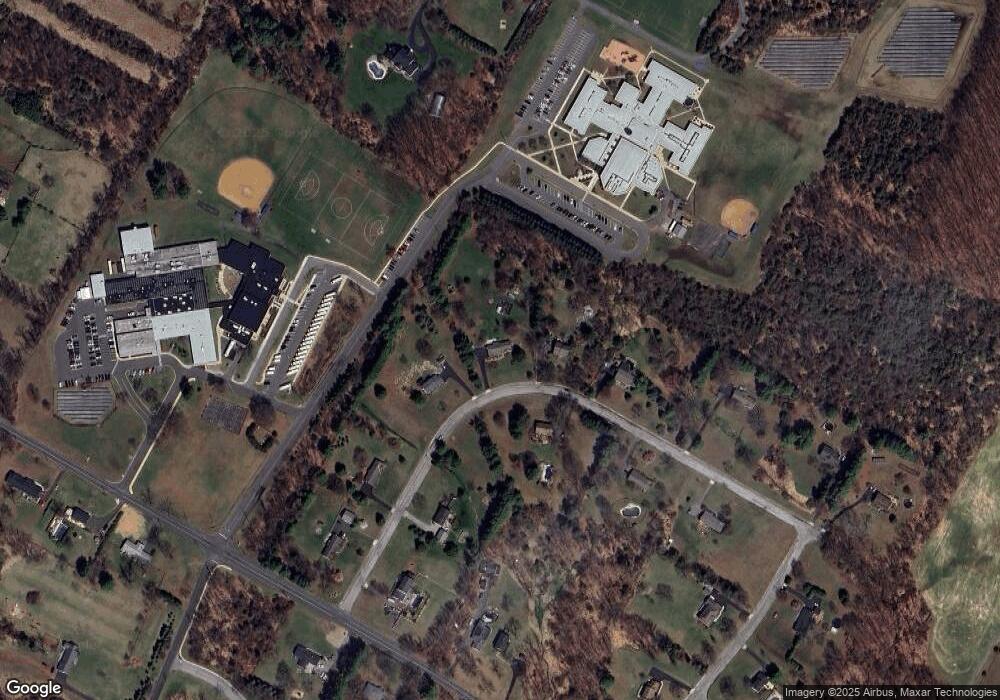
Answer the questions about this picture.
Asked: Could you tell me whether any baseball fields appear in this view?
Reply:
Yes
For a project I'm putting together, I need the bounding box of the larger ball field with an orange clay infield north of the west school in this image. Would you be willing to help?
[217,158,275,224]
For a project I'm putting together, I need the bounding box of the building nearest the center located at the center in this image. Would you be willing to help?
[481,342,514,359]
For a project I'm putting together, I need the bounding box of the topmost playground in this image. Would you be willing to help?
[600,40,648,74]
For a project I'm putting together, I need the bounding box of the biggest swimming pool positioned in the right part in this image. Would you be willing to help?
[621,506,641,518]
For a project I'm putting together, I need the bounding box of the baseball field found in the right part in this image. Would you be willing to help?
[721,197,760,239]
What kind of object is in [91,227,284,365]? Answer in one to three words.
building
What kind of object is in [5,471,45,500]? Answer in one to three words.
house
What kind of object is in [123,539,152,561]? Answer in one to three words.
house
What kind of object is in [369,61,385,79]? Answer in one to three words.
swimming pool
